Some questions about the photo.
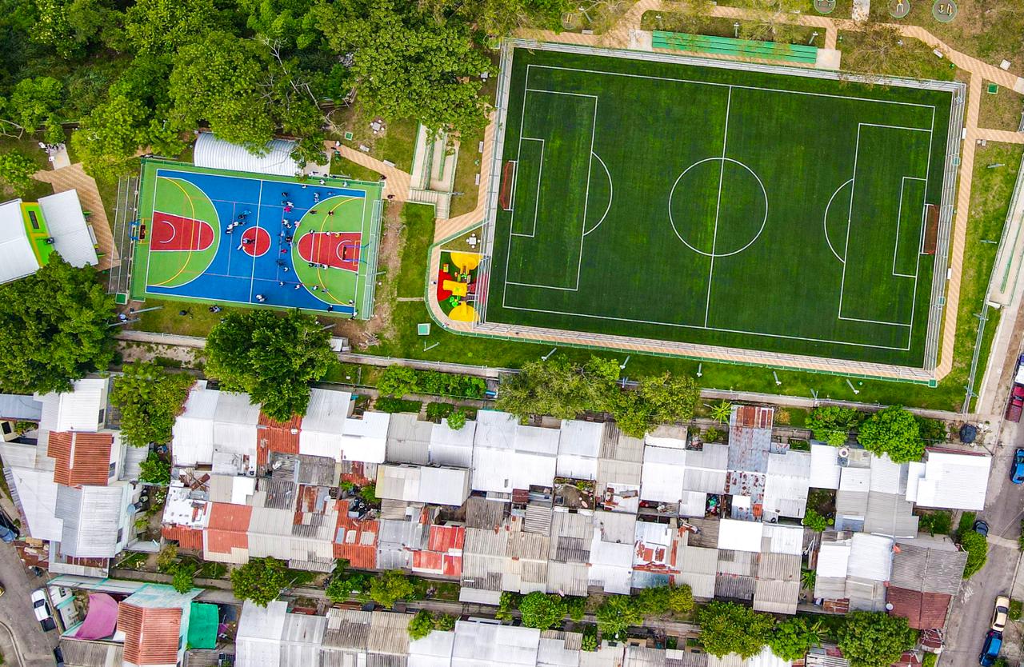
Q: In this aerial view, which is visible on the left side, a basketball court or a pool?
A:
basketball court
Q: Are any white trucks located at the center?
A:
No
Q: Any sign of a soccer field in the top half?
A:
Yes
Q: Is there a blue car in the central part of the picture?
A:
No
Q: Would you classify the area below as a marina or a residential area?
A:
residential area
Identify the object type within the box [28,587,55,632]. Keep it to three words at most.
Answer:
truck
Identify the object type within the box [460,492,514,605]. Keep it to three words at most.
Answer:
house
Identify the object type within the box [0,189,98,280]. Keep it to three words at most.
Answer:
building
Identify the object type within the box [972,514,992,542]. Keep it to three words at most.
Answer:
car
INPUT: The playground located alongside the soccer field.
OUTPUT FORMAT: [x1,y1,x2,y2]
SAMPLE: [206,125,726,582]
[437,251,483,322]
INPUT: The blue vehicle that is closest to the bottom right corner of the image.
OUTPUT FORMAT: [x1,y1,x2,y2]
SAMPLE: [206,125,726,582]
[980,628,1004,667]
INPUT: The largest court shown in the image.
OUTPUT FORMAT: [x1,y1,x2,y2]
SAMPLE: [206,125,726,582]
[129,159,383,320]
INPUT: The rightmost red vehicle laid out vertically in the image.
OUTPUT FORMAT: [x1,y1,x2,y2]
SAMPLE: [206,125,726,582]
[1003,382,1024,425]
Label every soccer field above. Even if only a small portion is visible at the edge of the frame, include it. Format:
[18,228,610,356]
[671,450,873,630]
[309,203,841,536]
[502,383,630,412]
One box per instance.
[477,42,959,369]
